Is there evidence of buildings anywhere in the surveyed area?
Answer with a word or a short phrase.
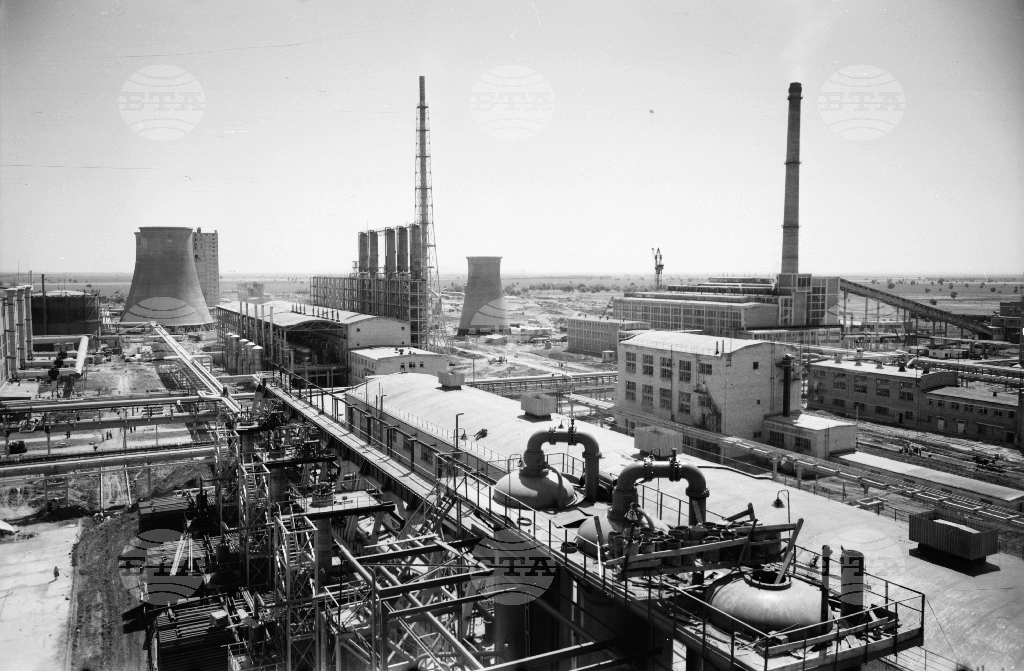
Yes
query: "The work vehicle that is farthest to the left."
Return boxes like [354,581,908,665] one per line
[8,437,30,453]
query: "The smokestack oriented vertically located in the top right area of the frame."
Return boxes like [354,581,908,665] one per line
[777,81,801,273]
